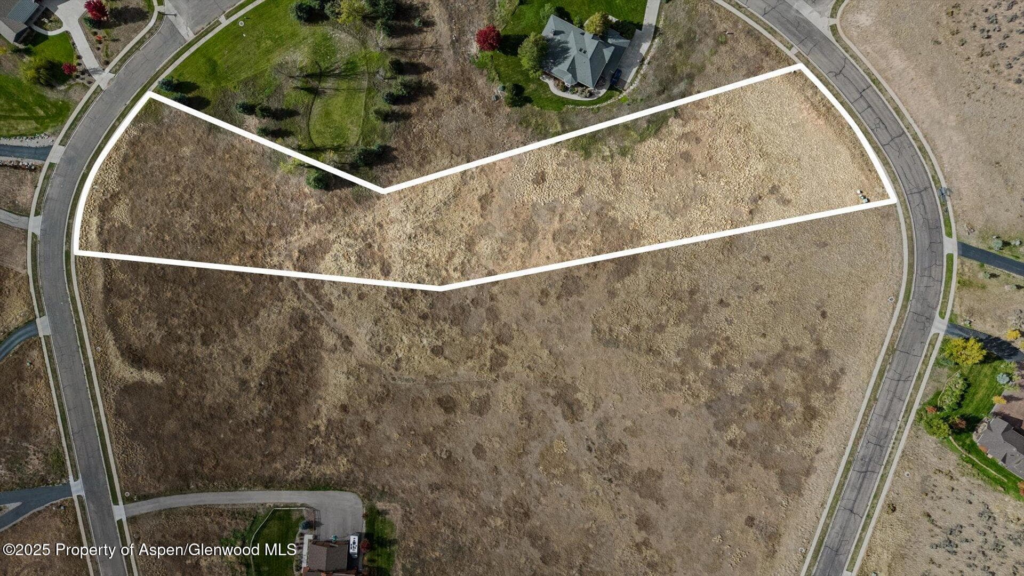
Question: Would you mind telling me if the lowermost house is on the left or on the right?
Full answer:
It is on the left.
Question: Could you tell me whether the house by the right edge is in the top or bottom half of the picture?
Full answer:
The house by the right edge is in the bottom half of the image.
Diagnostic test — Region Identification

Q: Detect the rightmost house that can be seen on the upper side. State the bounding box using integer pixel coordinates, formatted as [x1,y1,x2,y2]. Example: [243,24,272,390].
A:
[529,16,630,91]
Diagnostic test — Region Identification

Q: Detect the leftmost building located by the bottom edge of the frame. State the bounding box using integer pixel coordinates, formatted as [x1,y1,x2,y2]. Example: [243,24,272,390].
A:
[304,537,359,576]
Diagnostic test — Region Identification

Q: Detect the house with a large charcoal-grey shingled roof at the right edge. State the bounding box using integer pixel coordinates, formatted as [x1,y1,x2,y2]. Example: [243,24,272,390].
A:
[971,417,1024,480]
